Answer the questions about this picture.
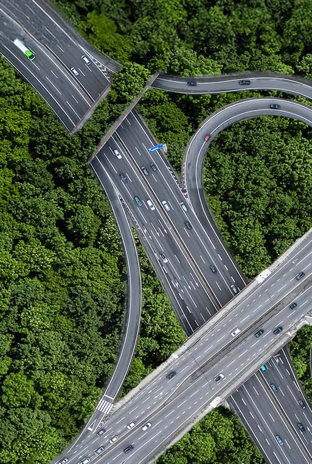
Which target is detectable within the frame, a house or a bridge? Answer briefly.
bridge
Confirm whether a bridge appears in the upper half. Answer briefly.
Yes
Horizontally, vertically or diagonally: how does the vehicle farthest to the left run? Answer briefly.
diagonally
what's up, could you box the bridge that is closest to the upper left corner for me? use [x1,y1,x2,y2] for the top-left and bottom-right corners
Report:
[66,60,159,163]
